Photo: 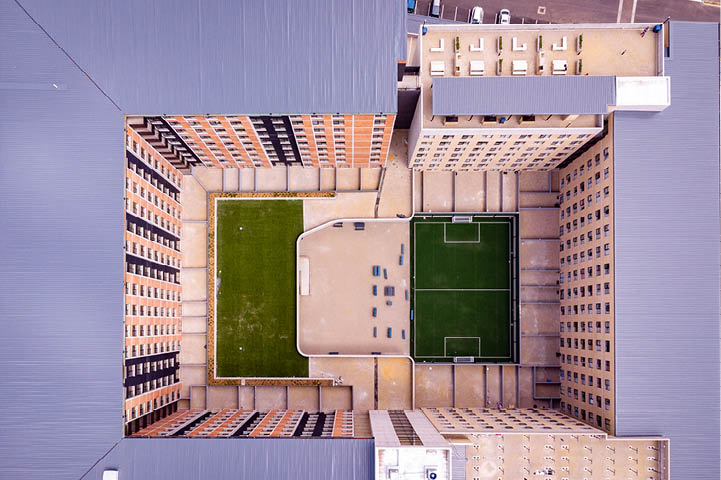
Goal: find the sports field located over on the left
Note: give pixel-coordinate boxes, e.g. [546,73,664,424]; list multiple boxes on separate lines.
[213,198,335,384]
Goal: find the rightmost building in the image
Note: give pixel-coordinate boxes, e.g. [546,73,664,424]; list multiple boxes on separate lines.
[560,20,720,480]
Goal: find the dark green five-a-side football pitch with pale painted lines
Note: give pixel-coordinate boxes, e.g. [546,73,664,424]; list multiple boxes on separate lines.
[410,214,516,364]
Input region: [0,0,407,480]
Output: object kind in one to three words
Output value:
building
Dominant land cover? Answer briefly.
buildings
